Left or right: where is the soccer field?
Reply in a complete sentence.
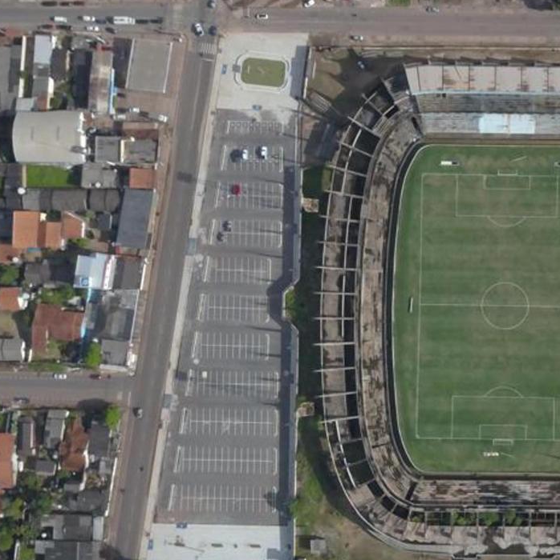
The soccer field is on the right side of the image.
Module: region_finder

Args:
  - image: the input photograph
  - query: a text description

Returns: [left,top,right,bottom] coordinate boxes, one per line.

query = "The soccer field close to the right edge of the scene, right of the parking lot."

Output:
[391,141,560,478]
